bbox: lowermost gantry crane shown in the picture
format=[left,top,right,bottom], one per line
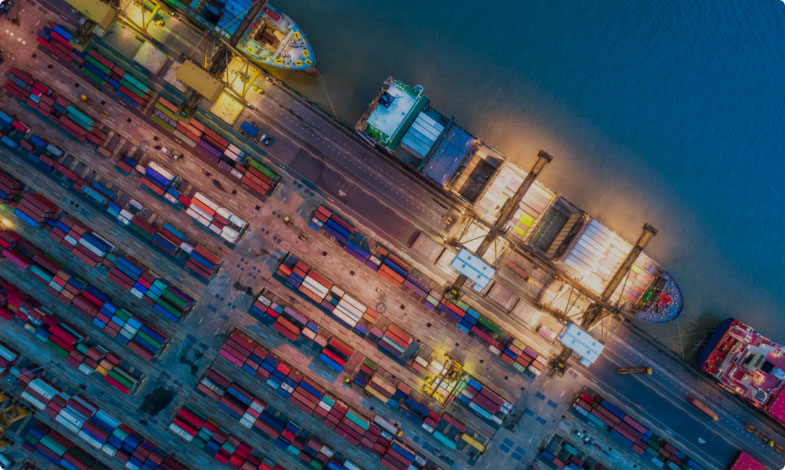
[0,394,44,452]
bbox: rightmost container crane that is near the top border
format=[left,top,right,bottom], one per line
[181,0,278,120]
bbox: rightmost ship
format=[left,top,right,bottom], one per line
[697,318,785,425]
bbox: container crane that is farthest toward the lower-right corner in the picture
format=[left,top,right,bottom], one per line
[533,219,656,368]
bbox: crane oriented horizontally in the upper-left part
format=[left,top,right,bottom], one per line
[70,0,182,51]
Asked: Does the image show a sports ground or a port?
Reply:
port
